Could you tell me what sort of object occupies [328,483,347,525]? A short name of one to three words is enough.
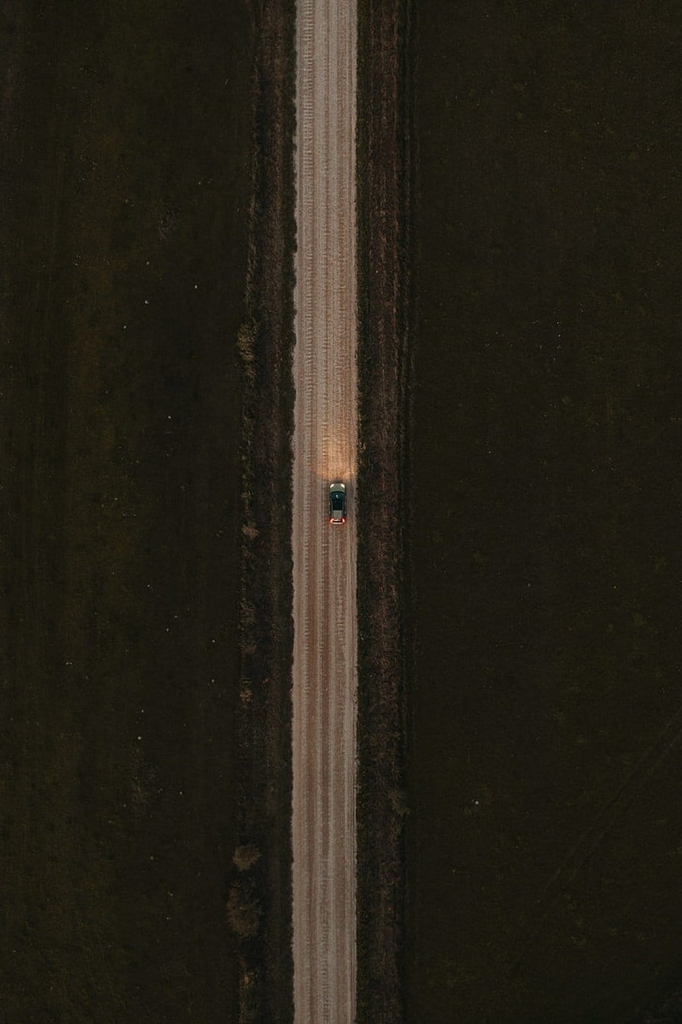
car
